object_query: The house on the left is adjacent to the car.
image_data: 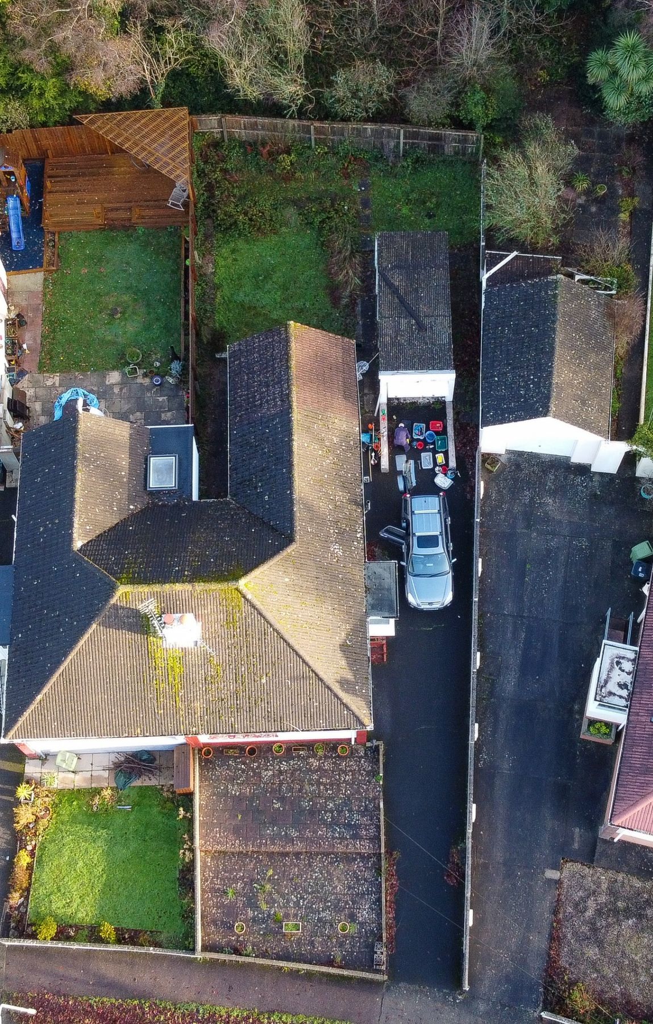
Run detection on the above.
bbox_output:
[0,320,400,755]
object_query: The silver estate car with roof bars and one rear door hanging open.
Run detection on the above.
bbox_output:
[381,490,459,612]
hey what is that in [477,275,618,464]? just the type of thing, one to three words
building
